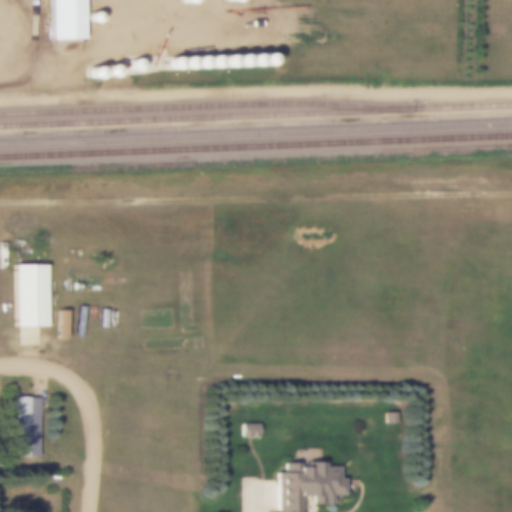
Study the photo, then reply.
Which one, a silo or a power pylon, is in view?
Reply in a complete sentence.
There is a silo in the scene.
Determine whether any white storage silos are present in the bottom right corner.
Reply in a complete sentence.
No, I see no white storage silo in the bottom right corner.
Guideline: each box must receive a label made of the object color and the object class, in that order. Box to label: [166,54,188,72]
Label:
white silo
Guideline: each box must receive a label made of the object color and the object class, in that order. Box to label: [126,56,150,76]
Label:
white silo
